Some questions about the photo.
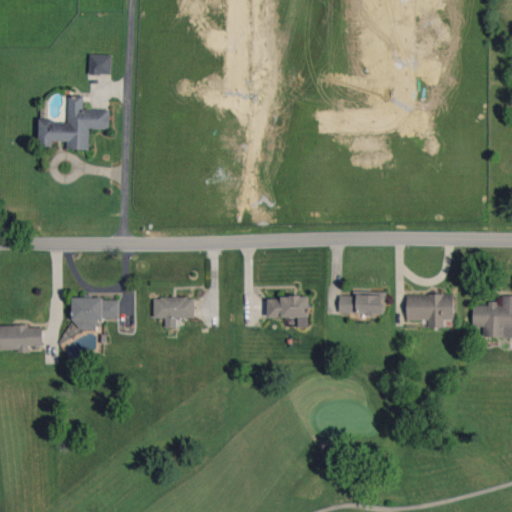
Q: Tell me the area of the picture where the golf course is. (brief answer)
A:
bottom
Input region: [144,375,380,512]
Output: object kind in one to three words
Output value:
golf course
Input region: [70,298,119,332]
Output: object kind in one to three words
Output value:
house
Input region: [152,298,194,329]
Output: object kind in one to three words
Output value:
house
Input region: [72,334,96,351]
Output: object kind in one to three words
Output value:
swimming pool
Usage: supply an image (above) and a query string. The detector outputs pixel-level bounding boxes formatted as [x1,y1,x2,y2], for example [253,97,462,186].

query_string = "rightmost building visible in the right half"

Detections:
[474,295,512,338]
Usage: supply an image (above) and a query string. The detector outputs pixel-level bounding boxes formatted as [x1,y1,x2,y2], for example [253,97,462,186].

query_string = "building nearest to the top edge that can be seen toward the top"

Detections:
[88,54,112,74]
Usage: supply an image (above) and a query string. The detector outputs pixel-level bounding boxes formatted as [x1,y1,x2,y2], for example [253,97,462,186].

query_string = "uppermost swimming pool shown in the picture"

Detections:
[49,92,62,118]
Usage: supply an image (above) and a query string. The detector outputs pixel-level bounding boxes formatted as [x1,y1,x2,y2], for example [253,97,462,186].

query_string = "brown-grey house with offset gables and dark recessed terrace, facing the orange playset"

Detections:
[267,296,309,328]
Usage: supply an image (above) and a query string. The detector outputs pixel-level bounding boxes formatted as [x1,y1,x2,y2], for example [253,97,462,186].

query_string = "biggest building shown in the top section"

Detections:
[38,98,108,150]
